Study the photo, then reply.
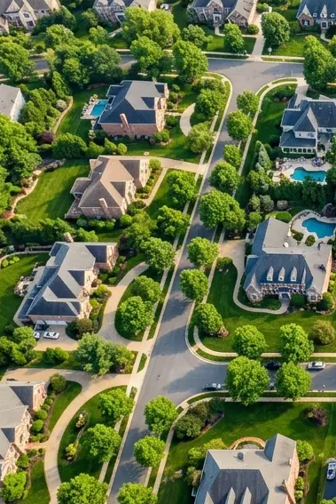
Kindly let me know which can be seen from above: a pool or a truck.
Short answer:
pool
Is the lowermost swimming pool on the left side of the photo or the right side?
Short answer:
right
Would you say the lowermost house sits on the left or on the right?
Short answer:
right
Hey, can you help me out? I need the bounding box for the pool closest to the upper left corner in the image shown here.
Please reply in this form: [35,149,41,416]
[88,99,108,118]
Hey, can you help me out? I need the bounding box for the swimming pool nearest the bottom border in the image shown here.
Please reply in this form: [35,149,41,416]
[301,216,336,240]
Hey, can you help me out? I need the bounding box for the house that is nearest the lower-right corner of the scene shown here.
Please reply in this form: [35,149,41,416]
[195,434,306,504]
